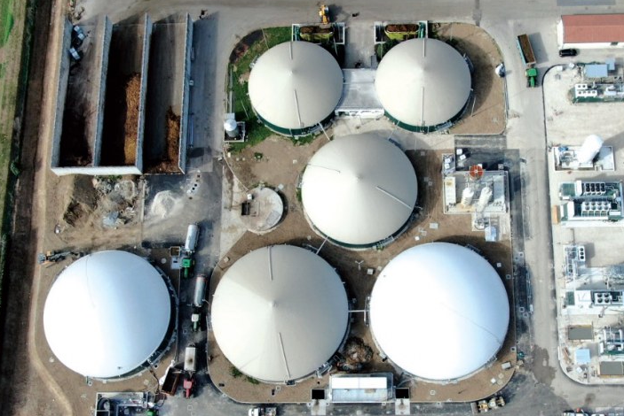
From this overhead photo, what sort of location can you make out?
industrial area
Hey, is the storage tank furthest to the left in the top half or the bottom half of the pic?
bottom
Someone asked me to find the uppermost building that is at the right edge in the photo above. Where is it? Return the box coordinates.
[558,14,624,51]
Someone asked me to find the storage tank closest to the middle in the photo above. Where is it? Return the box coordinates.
[296,133,423,252]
